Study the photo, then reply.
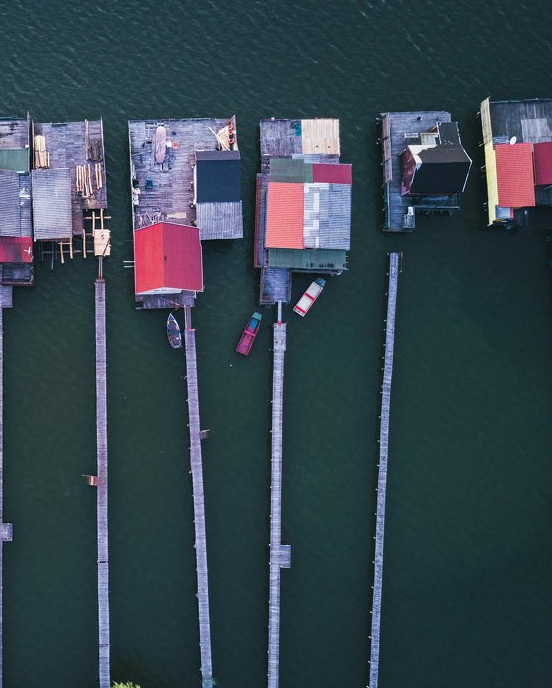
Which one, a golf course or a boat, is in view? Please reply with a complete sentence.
Visible in the photo is a boat.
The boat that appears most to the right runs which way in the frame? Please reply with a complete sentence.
Seen from above, the boat that appears most to the right lies at an angle.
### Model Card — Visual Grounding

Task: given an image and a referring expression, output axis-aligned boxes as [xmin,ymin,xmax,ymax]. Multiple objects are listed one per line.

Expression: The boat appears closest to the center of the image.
[234,312,261,357]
